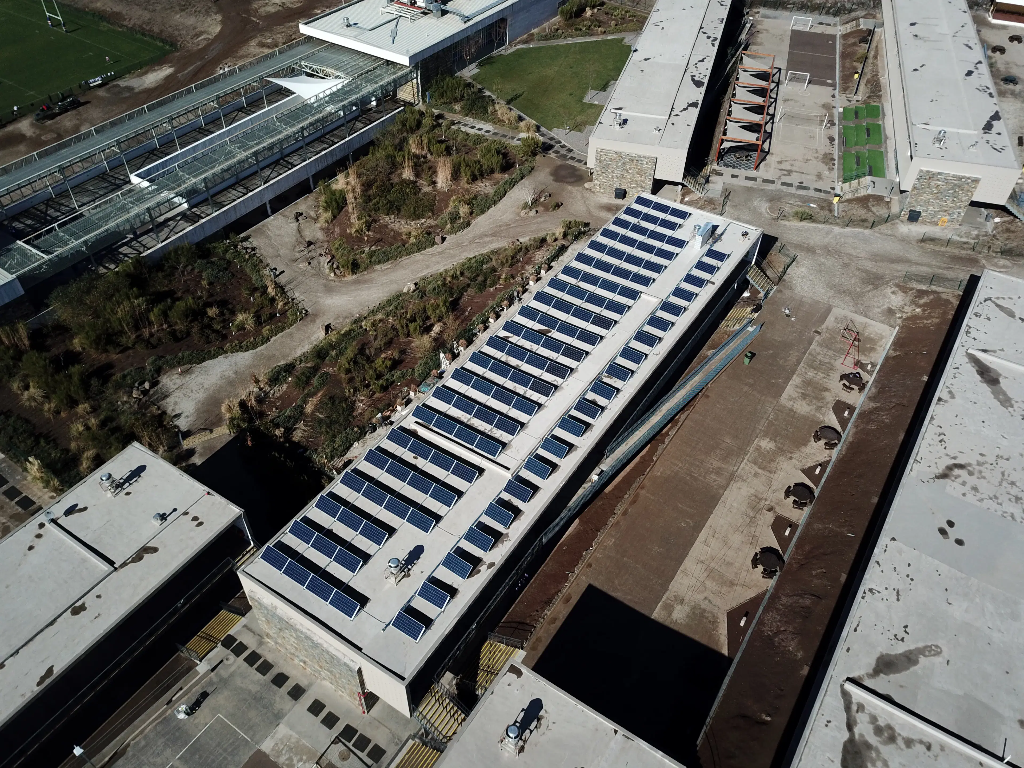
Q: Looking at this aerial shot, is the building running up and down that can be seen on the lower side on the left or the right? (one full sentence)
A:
You can find the building running up and down that can be seen on the lower side on the right side of the picture.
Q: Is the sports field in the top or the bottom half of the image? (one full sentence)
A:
The sports field is in the top half of the image.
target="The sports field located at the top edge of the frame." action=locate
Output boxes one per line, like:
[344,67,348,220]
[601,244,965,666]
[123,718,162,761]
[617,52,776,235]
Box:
[0,0,173,114]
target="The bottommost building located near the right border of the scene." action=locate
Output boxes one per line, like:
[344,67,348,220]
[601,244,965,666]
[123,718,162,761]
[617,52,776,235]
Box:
[789,269,1024,768]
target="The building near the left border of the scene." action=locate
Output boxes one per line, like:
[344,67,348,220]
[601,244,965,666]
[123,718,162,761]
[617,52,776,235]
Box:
[0,442,256,768]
